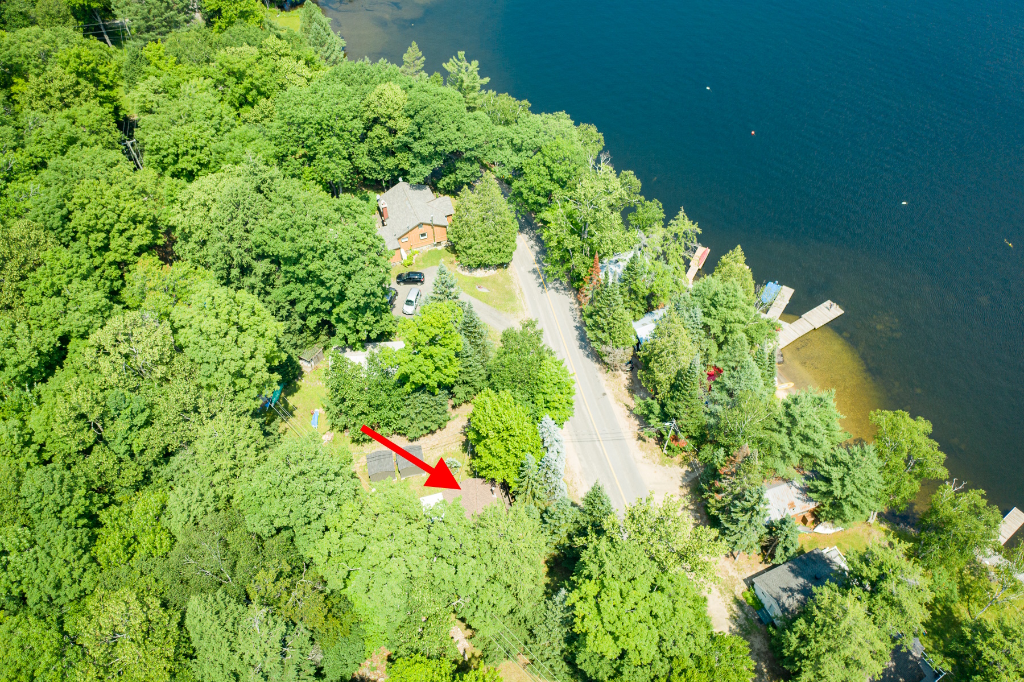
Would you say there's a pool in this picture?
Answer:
No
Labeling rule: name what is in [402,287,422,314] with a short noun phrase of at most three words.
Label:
car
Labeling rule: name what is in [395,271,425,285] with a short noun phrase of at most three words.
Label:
car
